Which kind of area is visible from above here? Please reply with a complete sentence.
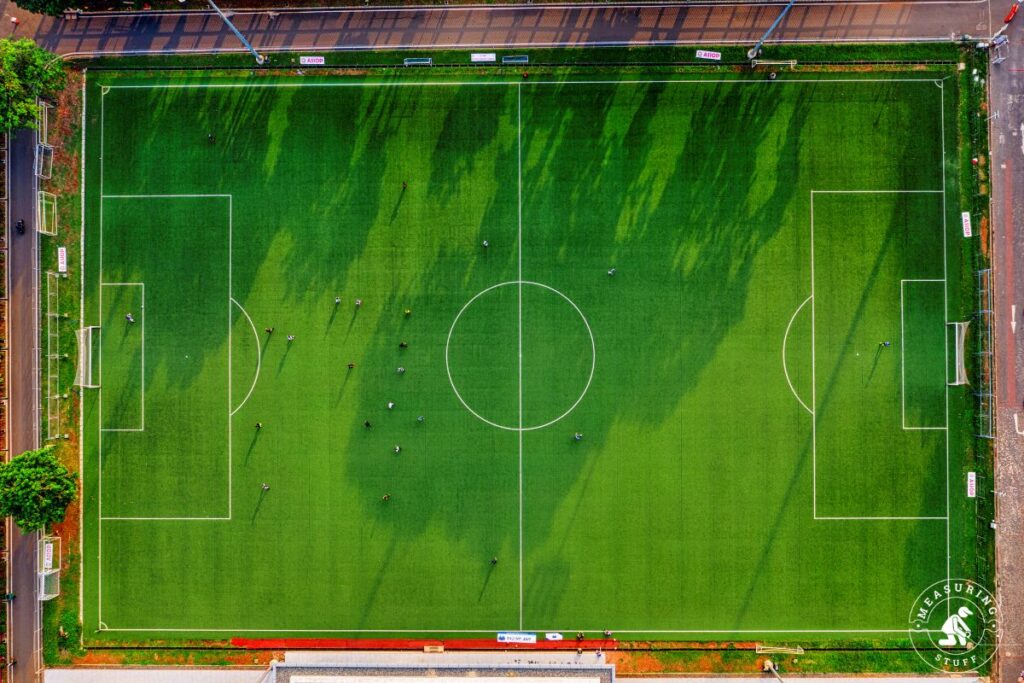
This looks like a sports ground.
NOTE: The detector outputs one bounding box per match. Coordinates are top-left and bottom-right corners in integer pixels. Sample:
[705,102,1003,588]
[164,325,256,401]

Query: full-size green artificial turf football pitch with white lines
[81,72,962,641]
